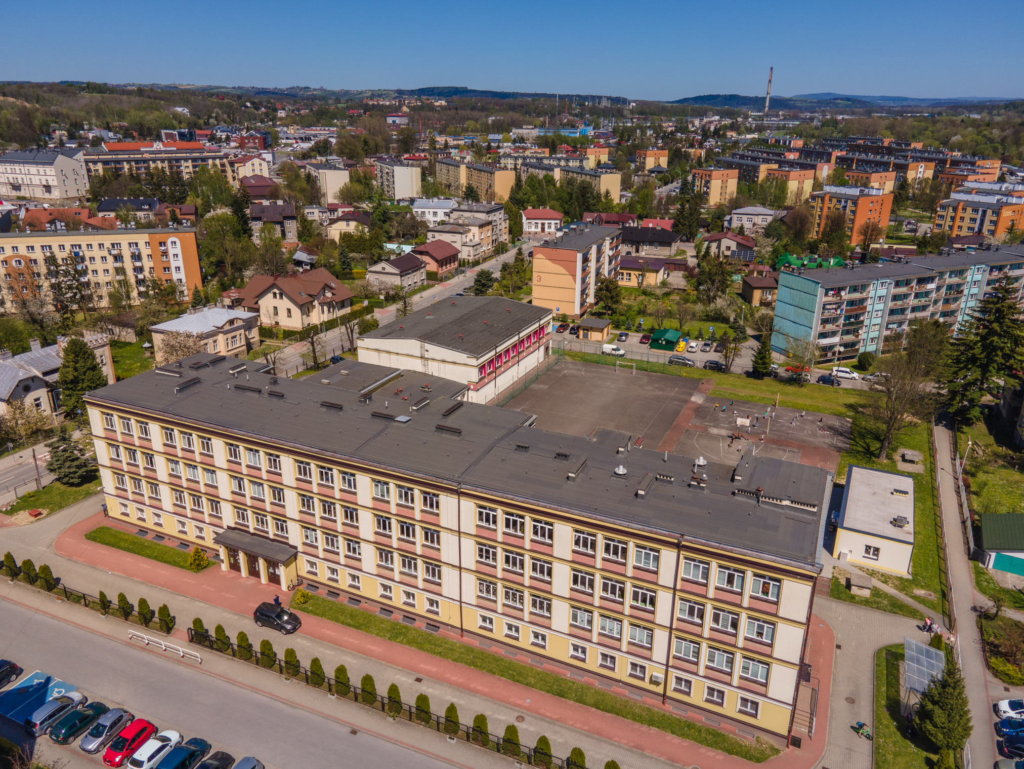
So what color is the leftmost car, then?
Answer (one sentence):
The leftmost car is black.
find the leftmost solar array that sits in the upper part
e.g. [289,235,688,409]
[724,246,767,265]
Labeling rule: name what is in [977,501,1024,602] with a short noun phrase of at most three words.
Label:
building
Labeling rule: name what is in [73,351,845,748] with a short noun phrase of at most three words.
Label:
building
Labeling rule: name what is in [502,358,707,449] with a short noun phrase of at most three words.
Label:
sports court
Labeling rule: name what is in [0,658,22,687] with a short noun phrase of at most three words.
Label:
car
